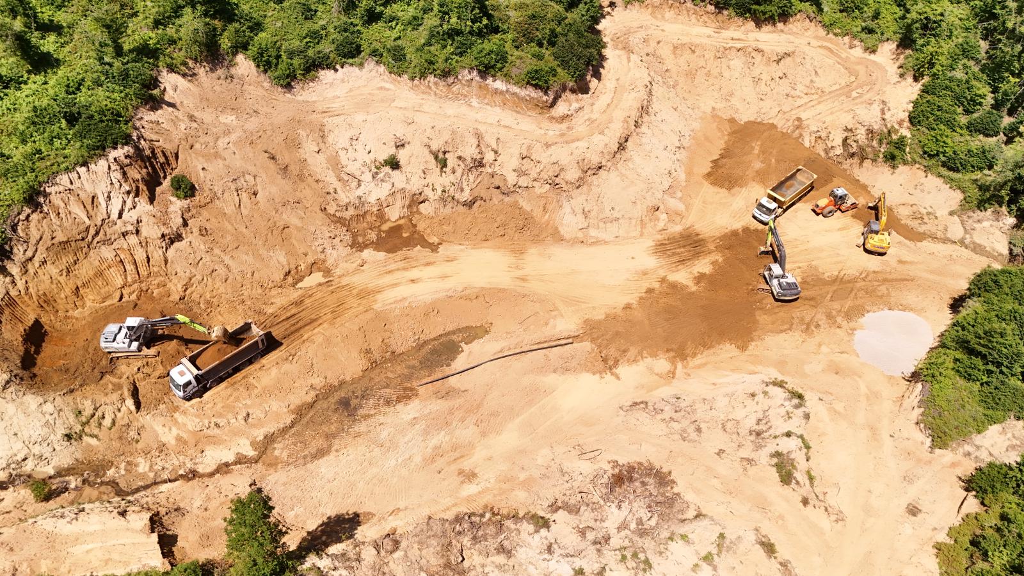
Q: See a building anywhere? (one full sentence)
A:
No, the photo shows no building.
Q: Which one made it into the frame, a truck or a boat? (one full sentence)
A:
This aerial view contains a truck.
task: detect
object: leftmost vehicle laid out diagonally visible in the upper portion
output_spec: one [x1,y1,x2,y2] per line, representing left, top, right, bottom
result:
[751,170,817,227]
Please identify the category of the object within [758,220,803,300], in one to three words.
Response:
work vehicle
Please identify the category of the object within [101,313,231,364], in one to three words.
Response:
work vehicle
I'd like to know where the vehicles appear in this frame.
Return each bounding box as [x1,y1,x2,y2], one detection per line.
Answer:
[751,170,817,227]
[101,313,231,364]
[813,189,859,223]
[758,220,803,300]
[163,317,273,408]
[852,192,889,258]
